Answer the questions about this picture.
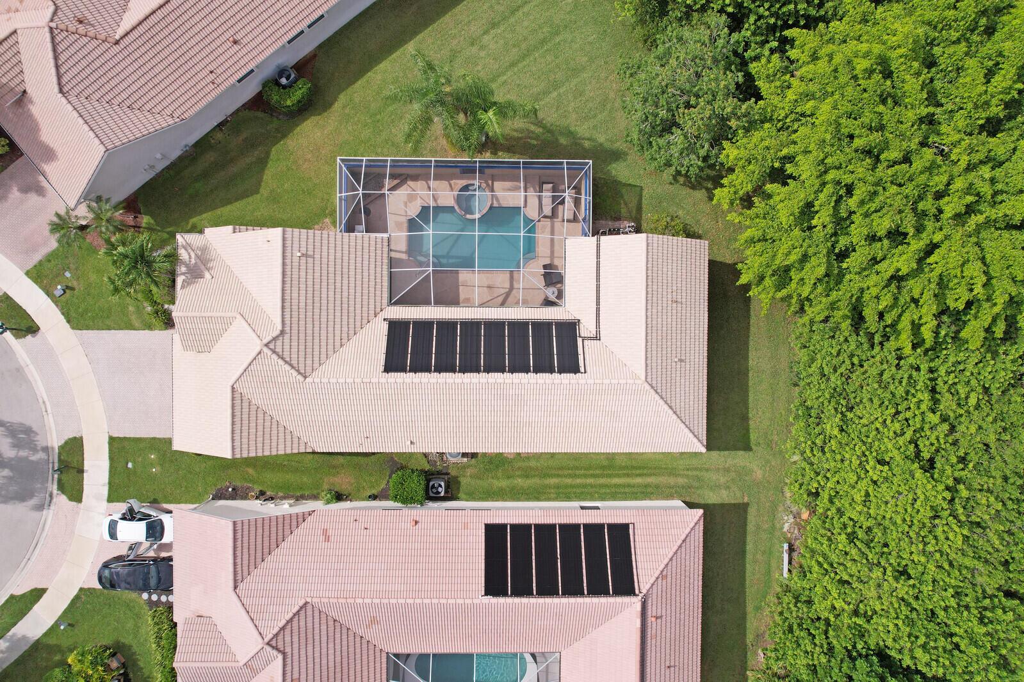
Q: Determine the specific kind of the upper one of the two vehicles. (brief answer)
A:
automobile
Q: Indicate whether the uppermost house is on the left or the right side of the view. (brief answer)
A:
left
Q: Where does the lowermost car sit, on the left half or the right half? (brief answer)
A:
left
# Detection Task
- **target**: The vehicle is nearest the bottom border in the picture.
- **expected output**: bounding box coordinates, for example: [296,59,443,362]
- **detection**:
[96,550,171,590]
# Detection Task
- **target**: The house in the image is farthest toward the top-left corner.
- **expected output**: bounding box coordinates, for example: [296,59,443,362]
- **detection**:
[0,0,366,209]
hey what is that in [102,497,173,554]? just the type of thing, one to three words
car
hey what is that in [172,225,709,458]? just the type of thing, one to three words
house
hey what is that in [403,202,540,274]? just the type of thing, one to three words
swimming pool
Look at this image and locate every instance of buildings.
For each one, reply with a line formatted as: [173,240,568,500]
[172,225,709,458]
[170,502,706,682]
[0,0,366,209]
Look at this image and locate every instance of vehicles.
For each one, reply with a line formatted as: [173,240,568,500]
[96,550,171,590]
[102,497,173,554]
